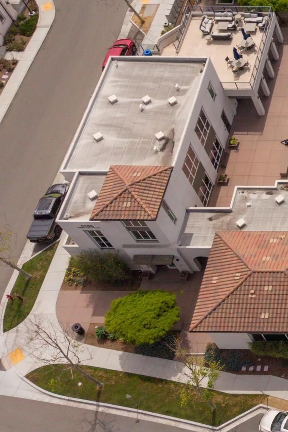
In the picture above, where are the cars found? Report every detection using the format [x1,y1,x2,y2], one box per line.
[19,185,65,244]
[95,37,128,73]
[257,412,288,432]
